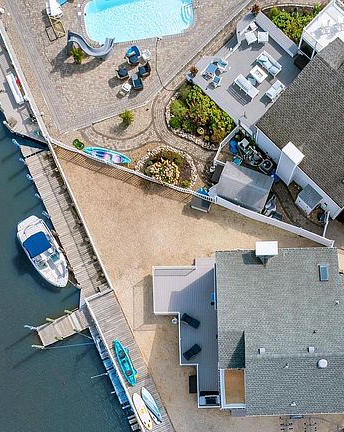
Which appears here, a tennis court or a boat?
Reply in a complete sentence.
It is a boat that can be seen here.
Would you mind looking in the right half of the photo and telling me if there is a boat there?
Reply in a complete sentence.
No, no boat is visible in the right half of the photo.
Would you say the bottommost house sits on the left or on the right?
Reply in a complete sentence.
You can find the bottommost house on the right side of the picture.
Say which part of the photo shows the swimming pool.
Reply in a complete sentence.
You can find the swimming pool in the top area of the picture.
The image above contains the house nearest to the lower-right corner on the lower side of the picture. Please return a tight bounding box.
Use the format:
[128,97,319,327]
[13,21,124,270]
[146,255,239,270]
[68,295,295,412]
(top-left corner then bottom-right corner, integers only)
[152,241,344,417]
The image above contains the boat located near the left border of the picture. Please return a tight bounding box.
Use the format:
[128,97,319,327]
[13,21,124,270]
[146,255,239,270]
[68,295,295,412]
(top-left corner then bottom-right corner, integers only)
[16,210,68,289]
